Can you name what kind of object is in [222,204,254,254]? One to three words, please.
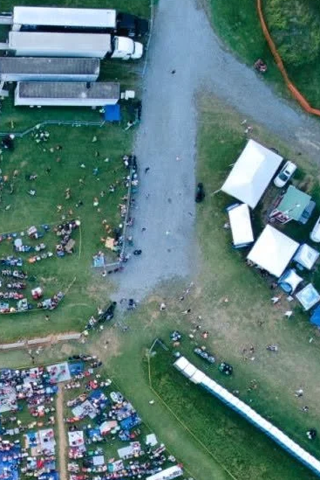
trailer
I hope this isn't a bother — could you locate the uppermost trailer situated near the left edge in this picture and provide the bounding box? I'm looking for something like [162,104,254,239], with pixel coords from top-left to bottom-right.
[10,9,116,37]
